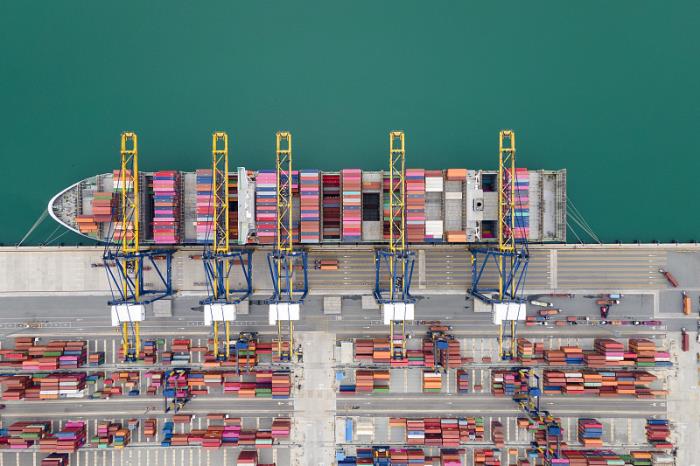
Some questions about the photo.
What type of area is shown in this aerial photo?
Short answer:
port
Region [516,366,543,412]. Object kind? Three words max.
container crane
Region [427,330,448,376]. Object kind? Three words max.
container crane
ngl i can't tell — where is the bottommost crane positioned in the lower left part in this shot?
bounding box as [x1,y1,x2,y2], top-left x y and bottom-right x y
[163,366,189,414]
